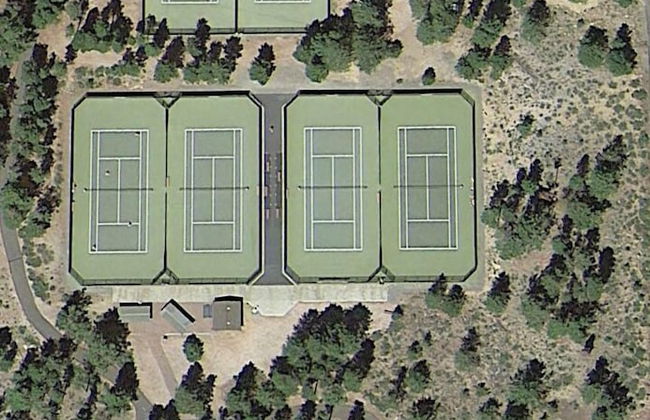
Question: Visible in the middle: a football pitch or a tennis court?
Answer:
tennis court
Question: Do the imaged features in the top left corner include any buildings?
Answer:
No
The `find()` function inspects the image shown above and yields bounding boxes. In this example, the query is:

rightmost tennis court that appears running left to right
[235,0,328,34]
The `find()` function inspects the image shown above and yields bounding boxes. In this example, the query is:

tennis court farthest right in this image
[378,93,475,282]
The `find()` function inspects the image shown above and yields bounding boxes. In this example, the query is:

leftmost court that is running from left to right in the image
[143,0,235,34]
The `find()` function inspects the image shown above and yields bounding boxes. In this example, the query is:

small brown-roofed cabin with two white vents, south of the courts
[213,301,241,330]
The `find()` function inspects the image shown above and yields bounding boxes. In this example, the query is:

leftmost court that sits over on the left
[70,96,165,285]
